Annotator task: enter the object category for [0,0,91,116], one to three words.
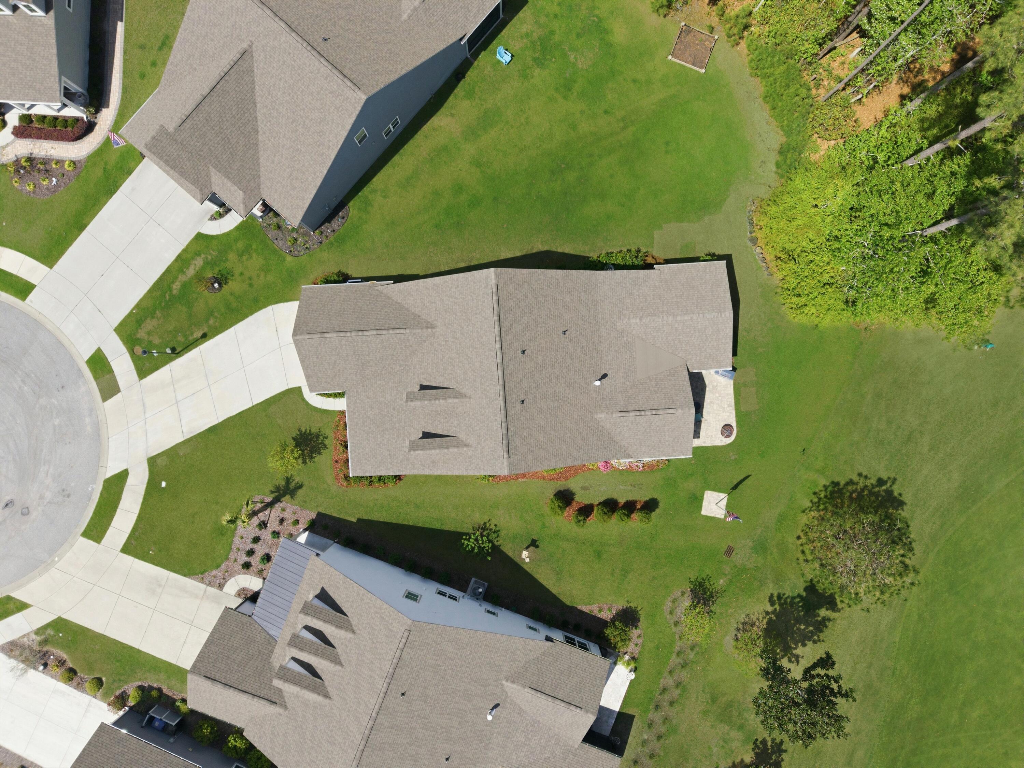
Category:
house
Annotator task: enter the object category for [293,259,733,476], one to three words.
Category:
house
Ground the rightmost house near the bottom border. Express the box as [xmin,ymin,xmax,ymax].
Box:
[186,529,623,768]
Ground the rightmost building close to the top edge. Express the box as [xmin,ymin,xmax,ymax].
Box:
[117,0,517,237]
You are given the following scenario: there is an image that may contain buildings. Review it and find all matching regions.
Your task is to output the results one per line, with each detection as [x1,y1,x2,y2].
[293,259,733,476]
[186,529,623,768]
[0,0,91,116]
[117,0,517,237]
[72,708,254,768]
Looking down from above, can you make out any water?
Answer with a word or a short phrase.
No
